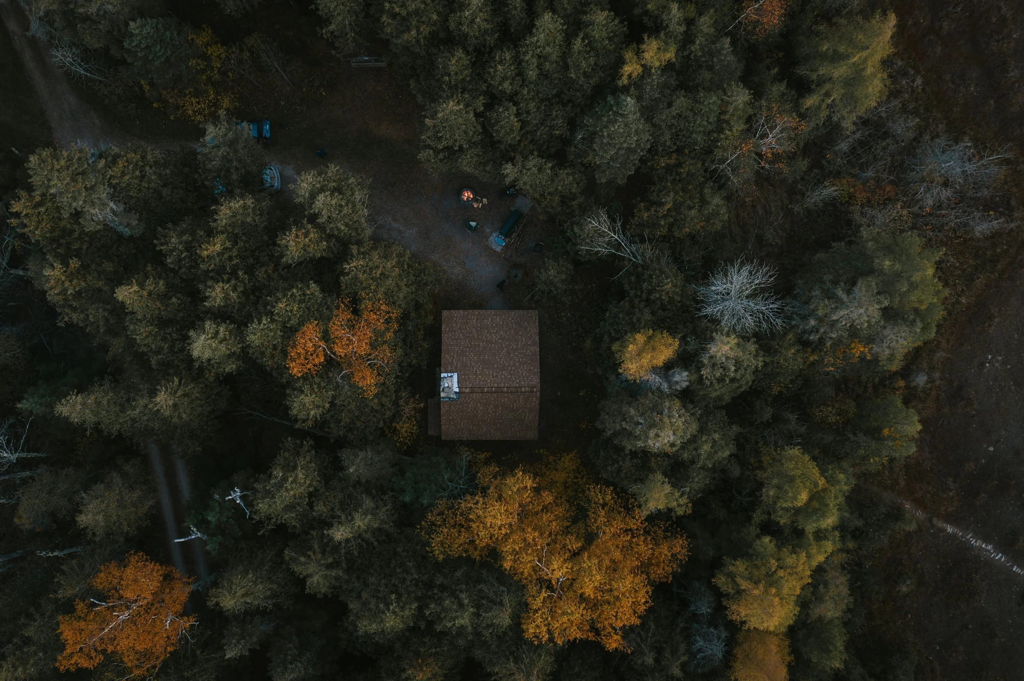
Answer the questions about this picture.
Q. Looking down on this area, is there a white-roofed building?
No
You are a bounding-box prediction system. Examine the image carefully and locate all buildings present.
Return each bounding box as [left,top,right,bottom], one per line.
[428,310,539,441]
